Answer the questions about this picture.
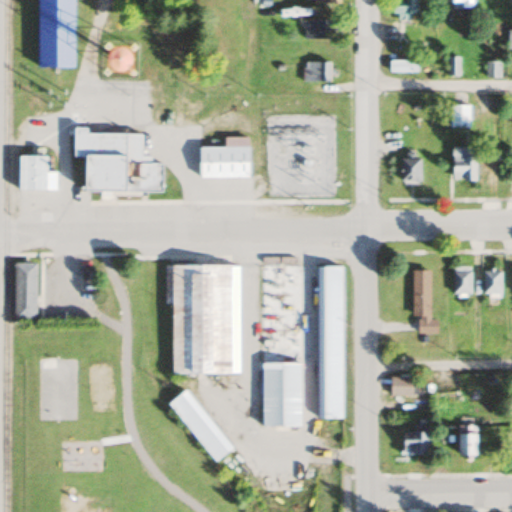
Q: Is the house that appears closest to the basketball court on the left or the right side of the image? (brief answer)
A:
left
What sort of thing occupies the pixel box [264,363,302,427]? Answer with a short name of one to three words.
shed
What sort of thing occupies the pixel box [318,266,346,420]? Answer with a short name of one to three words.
building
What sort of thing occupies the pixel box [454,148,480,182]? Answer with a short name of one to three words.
house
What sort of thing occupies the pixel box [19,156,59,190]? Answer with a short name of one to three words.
building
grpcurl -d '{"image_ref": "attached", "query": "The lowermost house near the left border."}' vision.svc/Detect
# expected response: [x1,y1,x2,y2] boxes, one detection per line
[14,262,38,318]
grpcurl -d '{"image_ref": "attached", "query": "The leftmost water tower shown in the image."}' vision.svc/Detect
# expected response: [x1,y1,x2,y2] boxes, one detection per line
[103,41,138,76]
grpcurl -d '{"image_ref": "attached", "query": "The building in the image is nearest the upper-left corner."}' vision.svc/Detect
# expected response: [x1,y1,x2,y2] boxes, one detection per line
[39,0,76,68]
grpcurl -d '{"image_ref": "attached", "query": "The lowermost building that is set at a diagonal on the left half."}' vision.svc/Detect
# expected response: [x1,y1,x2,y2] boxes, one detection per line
[170,390,235,464]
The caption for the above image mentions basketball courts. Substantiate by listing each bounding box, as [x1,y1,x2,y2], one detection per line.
[40,356,78,424]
